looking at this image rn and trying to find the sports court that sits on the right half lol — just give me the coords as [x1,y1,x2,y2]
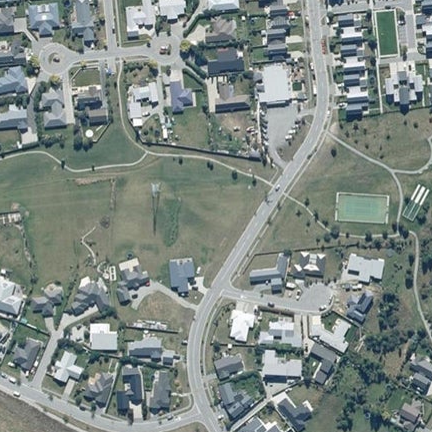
[336,193,390,223]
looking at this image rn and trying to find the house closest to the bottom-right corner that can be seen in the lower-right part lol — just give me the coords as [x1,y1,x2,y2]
[400,400,424,431]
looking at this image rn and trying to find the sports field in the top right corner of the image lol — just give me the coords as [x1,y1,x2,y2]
[377,9,399,58]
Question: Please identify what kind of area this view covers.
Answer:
residential area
